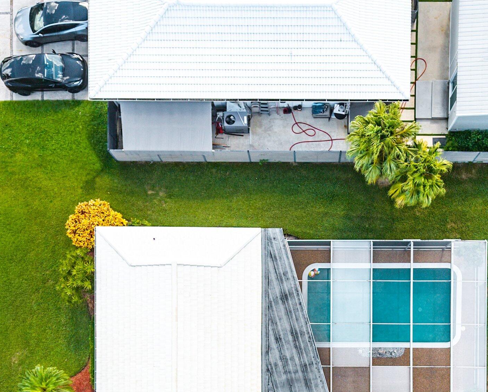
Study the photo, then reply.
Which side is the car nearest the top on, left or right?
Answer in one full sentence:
It is on the left.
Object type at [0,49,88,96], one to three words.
car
